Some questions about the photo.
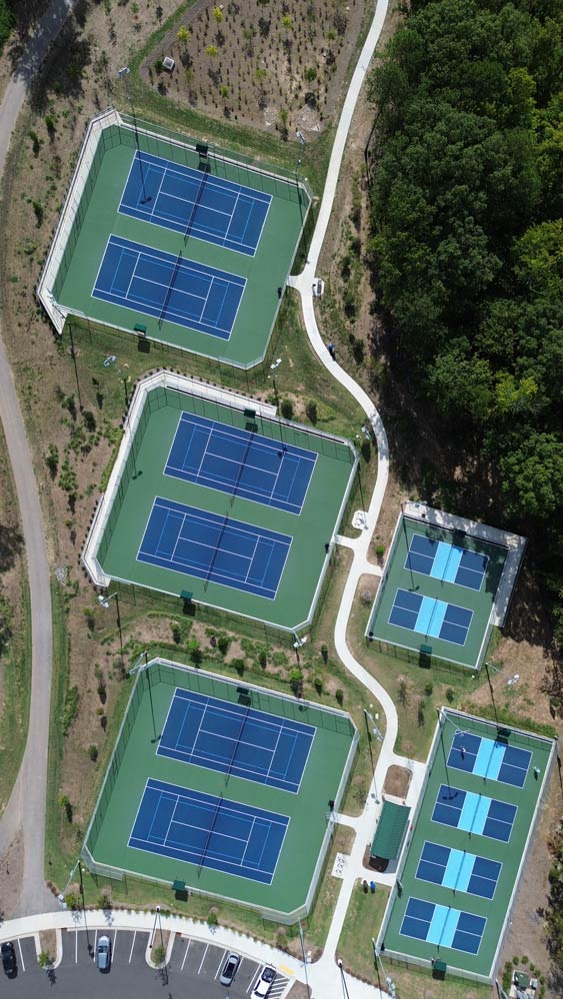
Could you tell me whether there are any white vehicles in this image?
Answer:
Yes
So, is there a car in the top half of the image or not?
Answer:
No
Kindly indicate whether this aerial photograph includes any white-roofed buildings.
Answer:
No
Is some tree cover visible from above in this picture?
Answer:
Yes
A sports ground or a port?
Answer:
sports ground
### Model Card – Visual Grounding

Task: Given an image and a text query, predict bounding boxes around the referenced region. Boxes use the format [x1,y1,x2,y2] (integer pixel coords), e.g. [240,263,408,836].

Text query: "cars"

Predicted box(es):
[253,965,274,999]
[96,935,110,968]
[221,952,239,984]
[2,942,18,974]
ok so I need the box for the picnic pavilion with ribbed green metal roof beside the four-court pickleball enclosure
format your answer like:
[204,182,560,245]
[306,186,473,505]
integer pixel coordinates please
[368,795,411,860]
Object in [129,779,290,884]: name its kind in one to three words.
tennis court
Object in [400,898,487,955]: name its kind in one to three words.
sports court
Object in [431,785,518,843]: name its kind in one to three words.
sports court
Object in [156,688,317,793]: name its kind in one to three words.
tennis court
